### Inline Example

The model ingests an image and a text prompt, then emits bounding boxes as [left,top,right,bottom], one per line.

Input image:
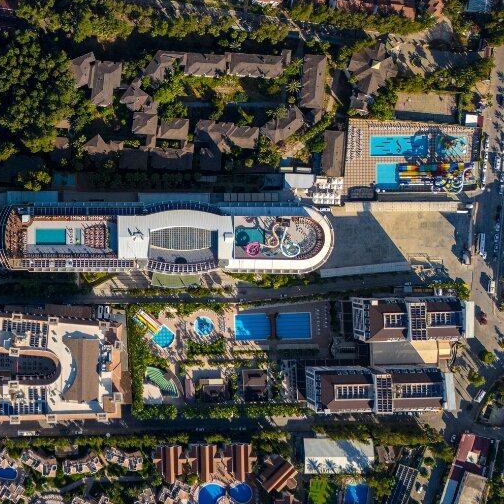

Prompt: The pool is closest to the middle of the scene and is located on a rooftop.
[236,226,266,246]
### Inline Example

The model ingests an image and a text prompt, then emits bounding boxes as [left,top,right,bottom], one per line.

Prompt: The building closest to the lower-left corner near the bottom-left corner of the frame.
[0,478,25,504]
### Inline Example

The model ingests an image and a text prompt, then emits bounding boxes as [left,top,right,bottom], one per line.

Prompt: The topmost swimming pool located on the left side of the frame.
[53,173,76,186]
